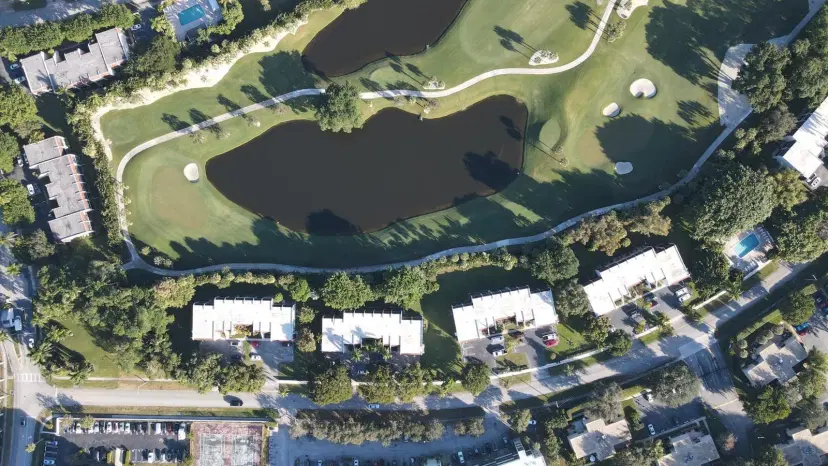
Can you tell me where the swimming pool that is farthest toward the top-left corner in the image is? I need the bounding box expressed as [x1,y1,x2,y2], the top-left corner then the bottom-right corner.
[163,0,222,41]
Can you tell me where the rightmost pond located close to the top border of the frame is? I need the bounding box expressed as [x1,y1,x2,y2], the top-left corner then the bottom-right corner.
[302,0,469,76]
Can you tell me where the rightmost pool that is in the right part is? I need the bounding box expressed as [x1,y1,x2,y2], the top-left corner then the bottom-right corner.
[726,227,777,279]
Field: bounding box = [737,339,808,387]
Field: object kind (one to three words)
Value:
house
